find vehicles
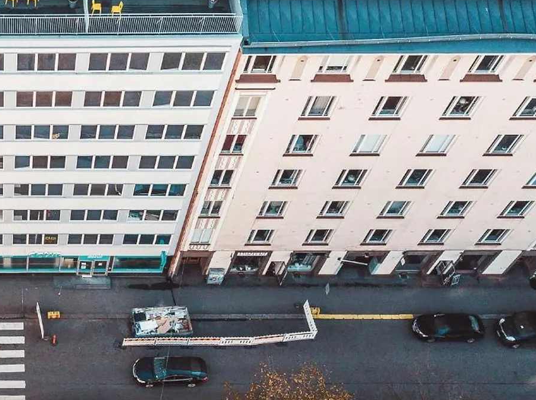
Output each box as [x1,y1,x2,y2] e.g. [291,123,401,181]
[411,308,489,341]
[492,310,536,347]
[132,351,209,386]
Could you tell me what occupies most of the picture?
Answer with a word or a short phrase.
buildings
